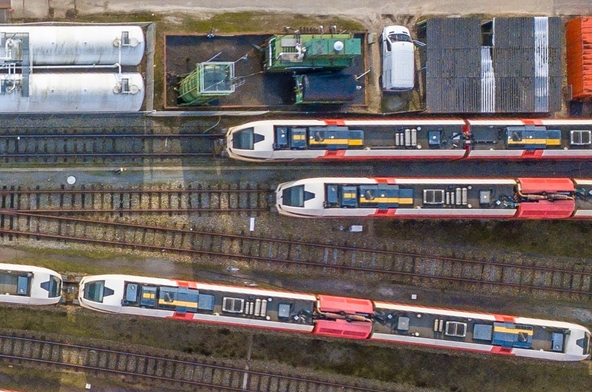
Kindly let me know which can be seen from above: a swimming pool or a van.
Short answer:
van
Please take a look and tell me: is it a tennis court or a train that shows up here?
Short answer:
train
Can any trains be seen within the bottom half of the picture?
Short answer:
Yes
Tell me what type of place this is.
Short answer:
industrial area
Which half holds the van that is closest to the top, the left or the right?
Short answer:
right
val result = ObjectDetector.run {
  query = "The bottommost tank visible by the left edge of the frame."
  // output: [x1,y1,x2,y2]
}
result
[0,73,145,114]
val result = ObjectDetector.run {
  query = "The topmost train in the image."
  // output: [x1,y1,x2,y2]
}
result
[218,120,592,161]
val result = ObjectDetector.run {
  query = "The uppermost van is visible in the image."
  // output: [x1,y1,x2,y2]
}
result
[383,25,426,91]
